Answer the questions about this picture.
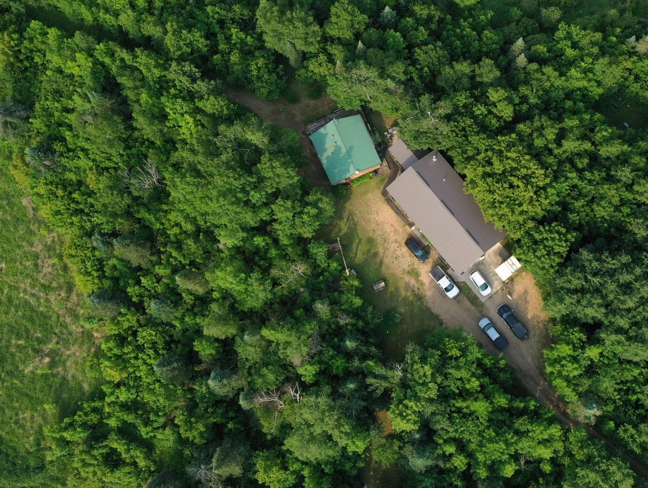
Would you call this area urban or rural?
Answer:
rural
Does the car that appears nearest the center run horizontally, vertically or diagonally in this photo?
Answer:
diagonally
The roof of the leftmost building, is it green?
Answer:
Yes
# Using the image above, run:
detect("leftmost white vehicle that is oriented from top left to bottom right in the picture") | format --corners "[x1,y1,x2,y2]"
[427,263,460,299]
